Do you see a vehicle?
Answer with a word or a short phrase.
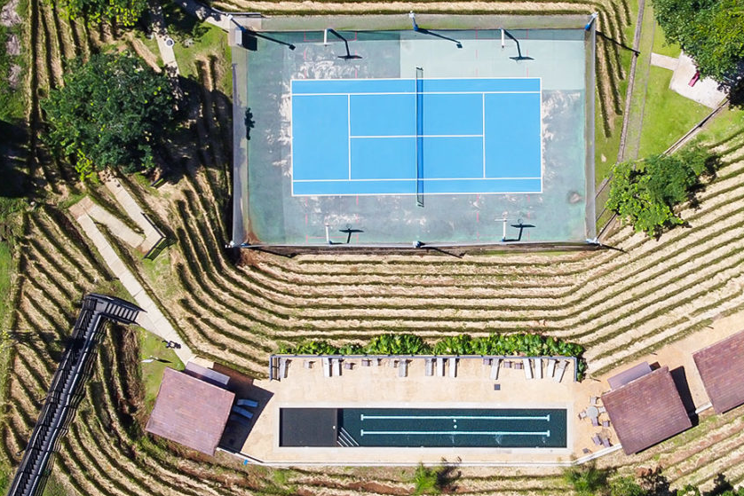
No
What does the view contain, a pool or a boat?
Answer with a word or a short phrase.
pool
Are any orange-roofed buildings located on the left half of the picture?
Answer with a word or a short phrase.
No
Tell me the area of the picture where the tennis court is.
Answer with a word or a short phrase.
top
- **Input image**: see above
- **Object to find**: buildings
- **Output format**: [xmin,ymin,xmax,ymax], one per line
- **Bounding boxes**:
[145,358,239,456]
[601,359,692,455]
[692,327,744,414]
